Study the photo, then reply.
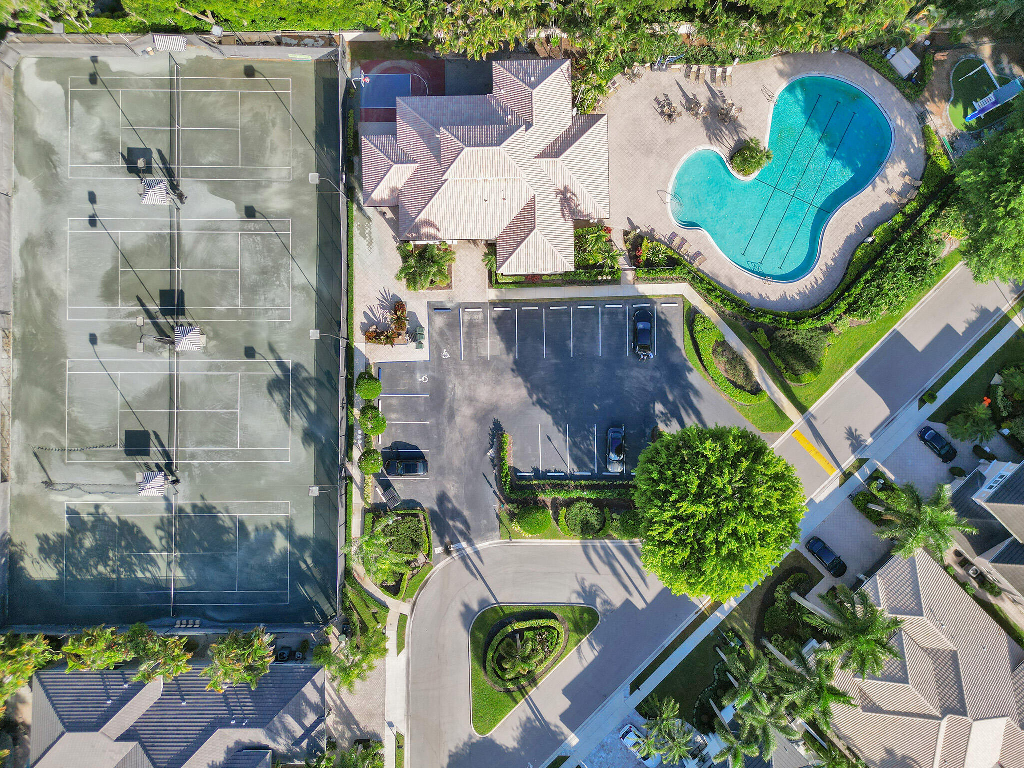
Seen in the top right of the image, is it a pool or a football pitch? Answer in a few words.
pool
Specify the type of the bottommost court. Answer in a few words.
tennis court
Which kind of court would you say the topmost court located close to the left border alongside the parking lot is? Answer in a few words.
tennis court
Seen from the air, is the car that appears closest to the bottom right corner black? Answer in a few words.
Yes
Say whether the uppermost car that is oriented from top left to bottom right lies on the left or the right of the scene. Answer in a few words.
right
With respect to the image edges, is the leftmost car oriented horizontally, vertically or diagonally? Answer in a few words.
horizontally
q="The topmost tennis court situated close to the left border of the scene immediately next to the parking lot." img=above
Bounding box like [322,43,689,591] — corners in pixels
[11,47,341,199]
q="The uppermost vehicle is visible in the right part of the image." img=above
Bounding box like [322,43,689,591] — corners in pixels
[632,308,655,355]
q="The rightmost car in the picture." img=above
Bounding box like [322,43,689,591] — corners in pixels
[913,424,956,462]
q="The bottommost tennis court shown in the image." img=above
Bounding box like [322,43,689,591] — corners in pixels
[9,482,341,628]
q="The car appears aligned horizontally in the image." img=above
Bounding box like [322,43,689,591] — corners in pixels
[384,458,428,480]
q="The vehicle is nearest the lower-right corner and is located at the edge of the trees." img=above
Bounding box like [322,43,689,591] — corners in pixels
[803,535,846,575]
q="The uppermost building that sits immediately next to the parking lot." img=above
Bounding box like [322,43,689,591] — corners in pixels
[360,58,610,273]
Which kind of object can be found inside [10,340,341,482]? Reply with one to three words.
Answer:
tennis court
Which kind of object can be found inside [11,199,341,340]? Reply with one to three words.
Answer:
tennis court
